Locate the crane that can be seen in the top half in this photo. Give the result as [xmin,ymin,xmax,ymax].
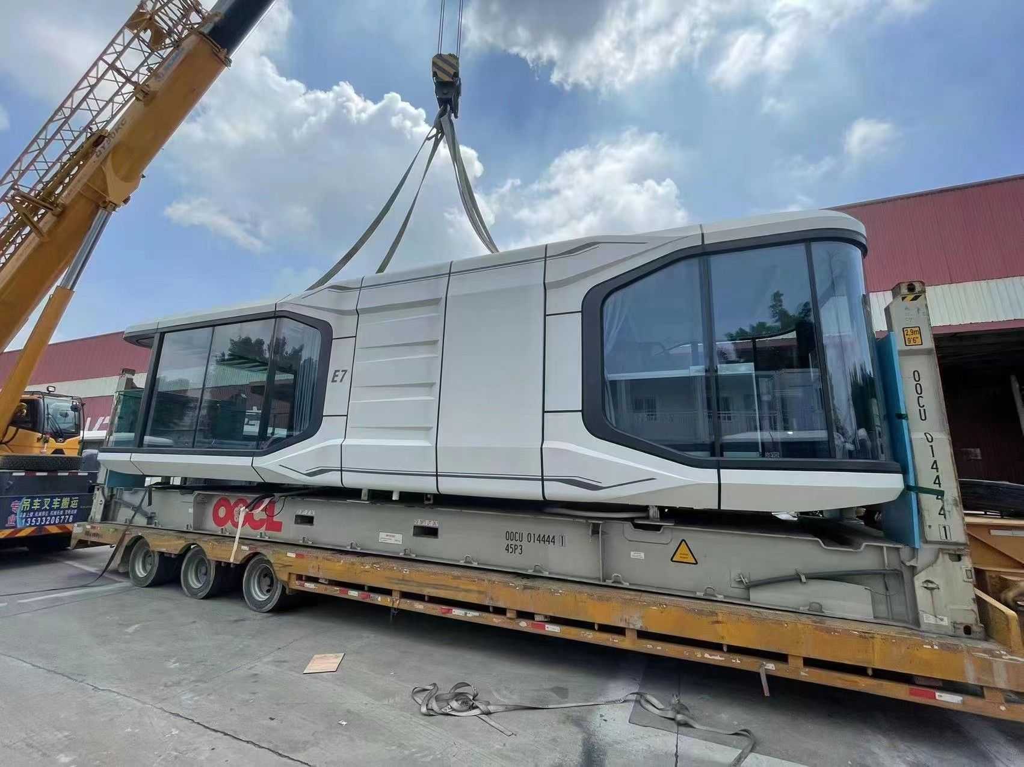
[0,0,278,554]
